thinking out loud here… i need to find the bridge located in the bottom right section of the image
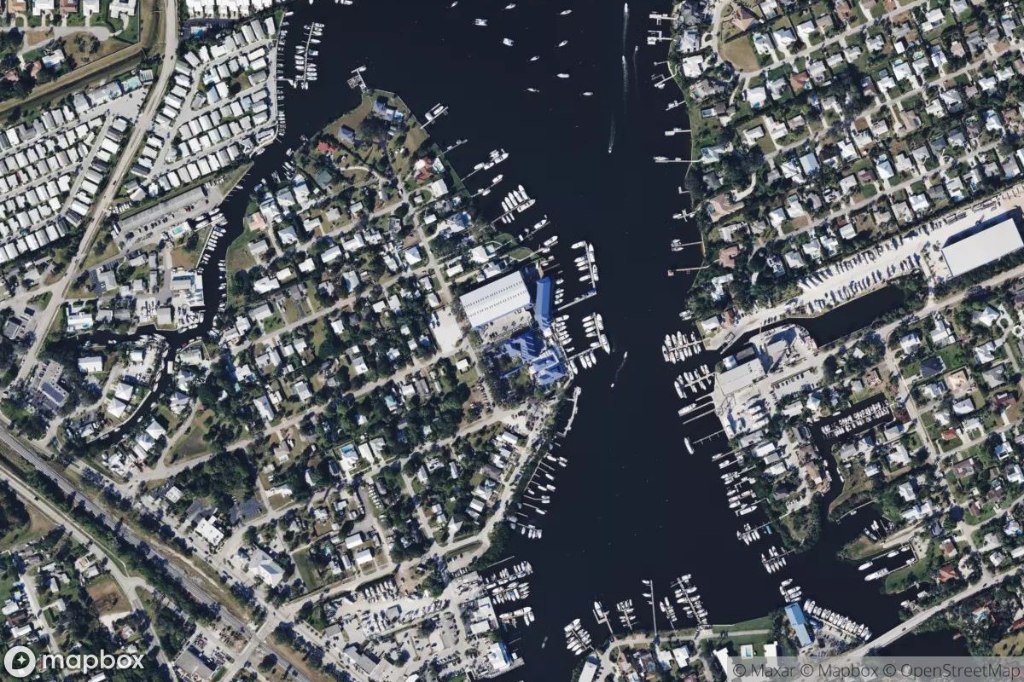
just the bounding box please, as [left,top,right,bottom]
[856,617,915,655]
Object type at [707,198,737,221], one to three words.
house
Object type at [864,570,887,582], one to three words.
boat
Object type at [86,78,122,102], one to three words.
building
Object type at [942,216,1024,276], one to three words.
shed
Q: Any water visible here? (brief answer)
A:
Yes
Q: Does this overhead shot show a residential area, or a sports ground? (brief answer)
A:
residential area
